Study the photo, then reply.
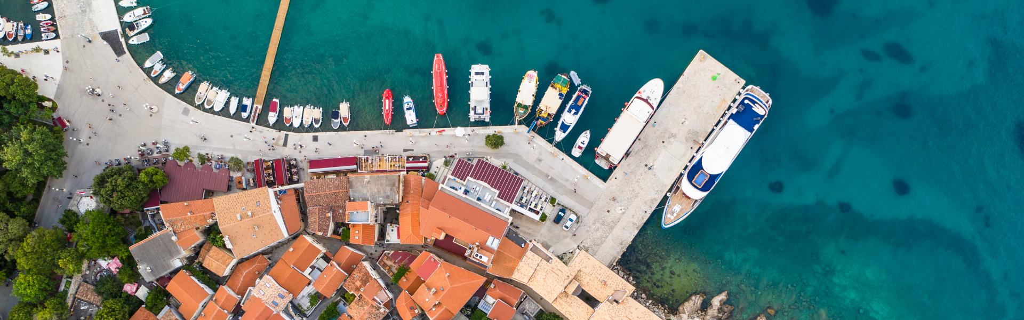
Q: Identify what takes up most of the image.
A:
water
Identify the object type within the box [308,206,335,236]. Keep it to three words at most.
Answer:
house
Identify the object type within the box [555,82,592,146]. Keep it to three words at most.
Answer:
boat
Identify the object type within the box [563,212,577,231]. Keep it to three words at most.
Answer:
car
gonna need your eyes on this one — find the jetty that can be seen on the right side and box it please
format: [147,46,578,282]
[582,50,745,268]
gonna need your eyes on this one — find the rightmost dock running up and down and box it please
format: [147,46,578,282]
[248,0,290,125]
